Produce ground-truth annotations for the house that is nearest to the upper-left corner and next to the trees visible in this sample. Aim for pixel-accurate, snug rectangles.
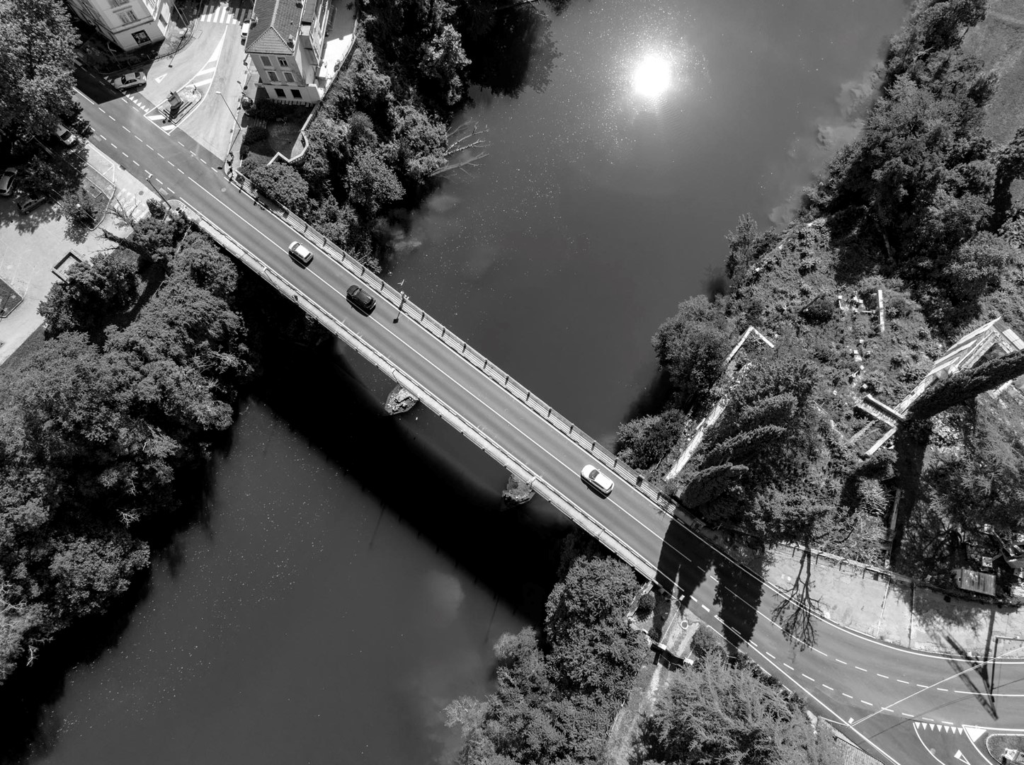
[63,0,174,50]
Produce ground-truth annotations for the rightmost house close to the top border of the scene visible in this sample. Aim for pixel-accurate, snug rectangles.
[246,0,335,101]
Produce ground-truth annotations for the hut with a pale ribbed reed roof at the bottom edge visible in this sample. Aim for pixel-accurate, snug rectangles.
[828,737,881,765]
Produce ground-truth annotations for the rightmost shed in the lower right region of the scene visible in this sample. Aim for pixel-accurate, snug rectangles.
[950,569,996,596]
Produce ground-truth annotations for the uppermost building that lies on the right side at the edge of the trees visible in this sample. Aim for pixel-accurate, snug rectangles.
[924,317,1024,378]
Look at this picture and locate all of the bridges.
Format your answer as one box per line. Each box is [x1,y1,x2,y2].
[188,170,711,594]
